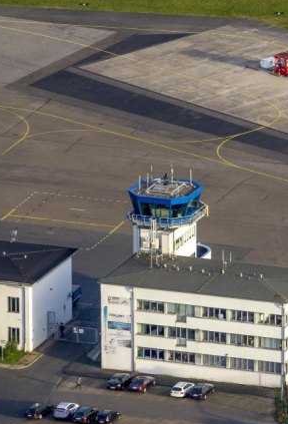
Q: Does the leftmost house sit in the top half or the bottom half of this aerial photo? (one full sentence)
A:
The bottom half of the photo is where the leftmost house is.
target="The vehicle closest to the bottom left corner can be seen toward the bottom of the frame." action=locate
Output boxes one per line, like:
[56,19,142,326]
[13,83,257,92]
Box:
[27,402,56,419]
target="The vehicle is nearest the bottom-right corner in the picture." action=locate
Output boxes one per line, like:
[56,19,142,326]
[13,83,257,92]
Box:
[192,382,220,399]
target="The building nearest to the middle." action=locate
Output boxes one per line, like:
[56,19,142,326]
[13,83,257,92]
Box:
[124,165,213,259]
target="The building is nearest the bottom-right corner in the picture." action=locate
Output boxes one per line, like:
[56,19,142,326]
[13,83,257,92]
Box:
[98,251,288,387]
